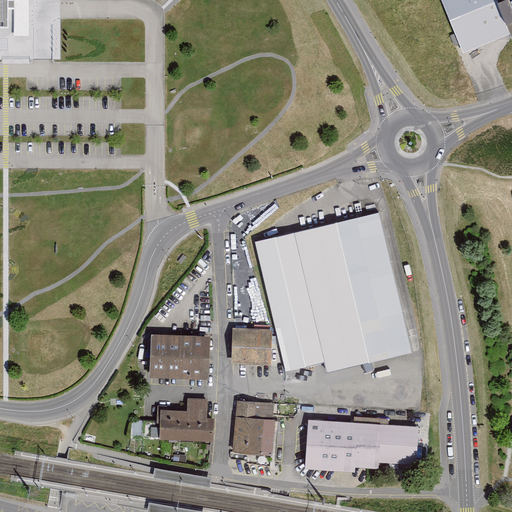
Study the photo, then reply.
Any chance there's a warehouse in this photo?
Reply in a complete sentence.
Yes, I can see a warehouse in this picture.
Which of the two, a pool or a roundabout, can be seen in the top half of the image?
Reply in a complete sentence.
It is a roundabout that can be seen in the top half of the image.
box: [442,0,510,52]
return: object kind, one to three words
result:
shed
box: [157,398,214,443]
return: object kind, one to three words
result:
house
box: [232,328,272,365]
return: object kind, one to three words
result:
barn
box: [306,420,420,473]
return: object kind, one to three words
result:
building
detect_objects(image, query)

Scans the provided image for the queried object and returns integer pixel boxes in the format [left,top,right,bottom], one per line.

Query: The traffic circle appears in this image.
[376,108,445,176]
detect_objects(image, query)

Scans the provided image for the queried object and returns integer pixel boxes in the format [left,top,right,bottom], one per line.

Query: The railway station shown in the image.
[11,451,377,512]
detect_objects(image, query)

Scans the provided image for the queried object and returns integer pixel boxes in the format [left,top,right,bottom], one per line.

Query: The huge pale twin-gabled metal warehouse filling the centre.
[256,213,412,372]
